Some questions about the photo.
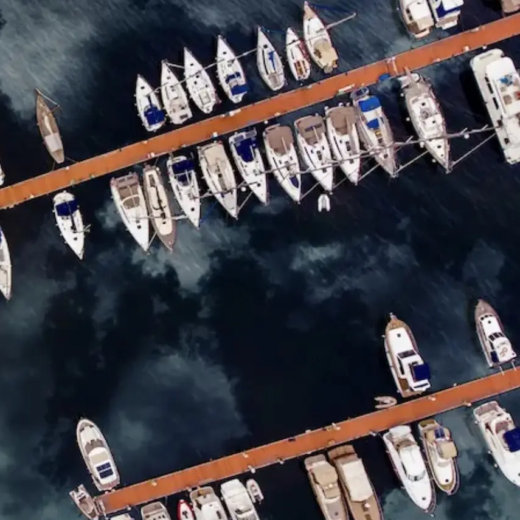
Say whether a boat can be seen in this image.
Yes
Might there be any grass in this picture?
No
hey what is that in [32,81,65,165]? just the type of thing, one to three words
boat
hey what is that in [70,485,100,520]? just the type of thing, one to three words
boat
